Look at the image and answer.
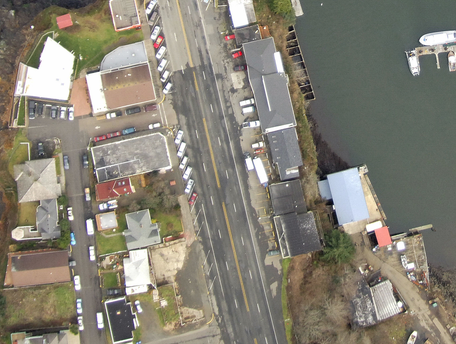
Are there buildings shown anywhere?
Yes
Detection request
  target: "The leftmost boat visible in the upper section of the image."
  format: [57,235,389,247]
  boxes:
[406,50,419,75]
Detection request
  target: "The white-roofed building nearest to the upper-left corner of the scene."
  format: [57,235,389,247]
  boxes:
[14,38,76,102]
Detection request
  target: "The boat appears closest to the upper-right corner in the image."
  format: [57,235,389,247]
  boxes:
[419,30,456,44]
